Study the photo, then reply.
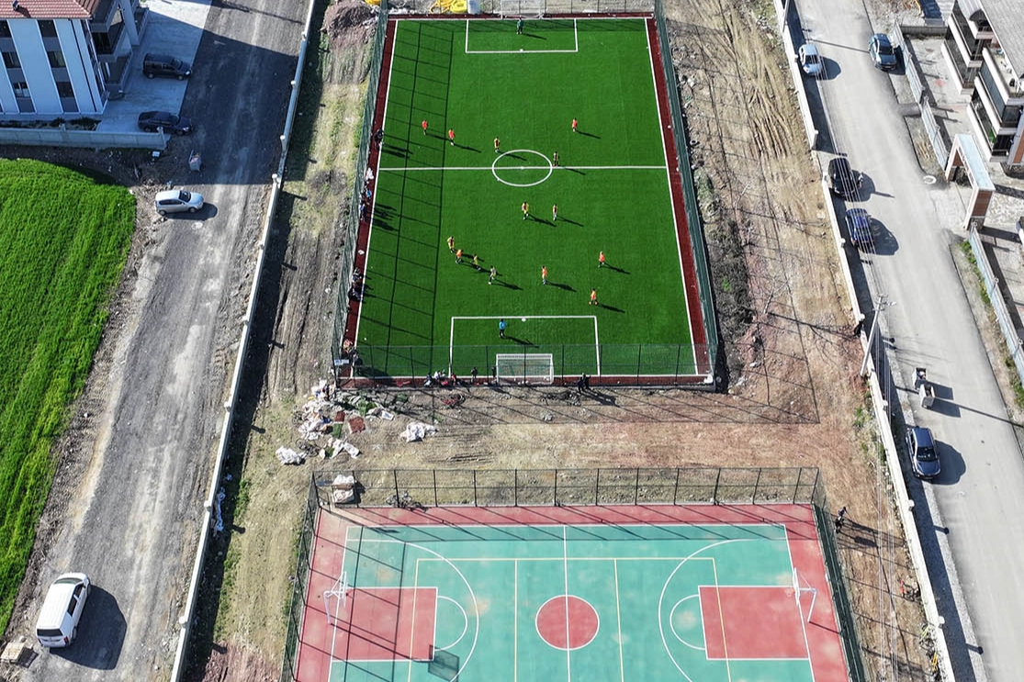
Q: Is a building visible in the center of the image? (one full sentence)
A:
No, the scene shows no building in the center of the image.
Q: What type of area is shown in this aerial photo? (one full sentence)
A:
The area seen from above is a sports ground.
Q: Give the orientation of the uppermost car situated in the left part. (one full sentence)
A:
The uppermost car situated in the left part is laid out from left to right.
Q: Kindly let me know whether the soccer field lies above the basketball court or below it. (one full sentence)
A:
The soccer field appears above the basketball court in the picture.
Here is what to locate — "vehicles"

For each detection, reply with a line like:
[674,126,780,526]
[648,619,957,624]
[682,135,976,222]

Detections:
[906,422,946,475]
[142,53,194,79]
[846,208,881,247]
[35,580,89,648]
[138,109,194,134]
[153,188,208,215]
[828,153,860,195]
[798,40,826,71]
[871,29,900,63]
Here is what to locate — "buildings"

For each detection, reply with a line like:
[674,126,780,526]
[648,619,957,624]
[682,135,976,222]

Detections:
[0,0,148,113]
[935,0,1024,182]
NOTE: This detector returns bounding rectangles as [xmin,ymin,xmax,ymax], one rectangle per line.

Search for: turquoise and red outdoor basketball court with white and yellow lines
[293,502,850,682]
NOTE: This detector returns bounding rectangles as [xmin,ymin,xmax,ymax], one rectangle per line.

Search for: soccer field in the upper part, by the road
[334,12,717,389]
